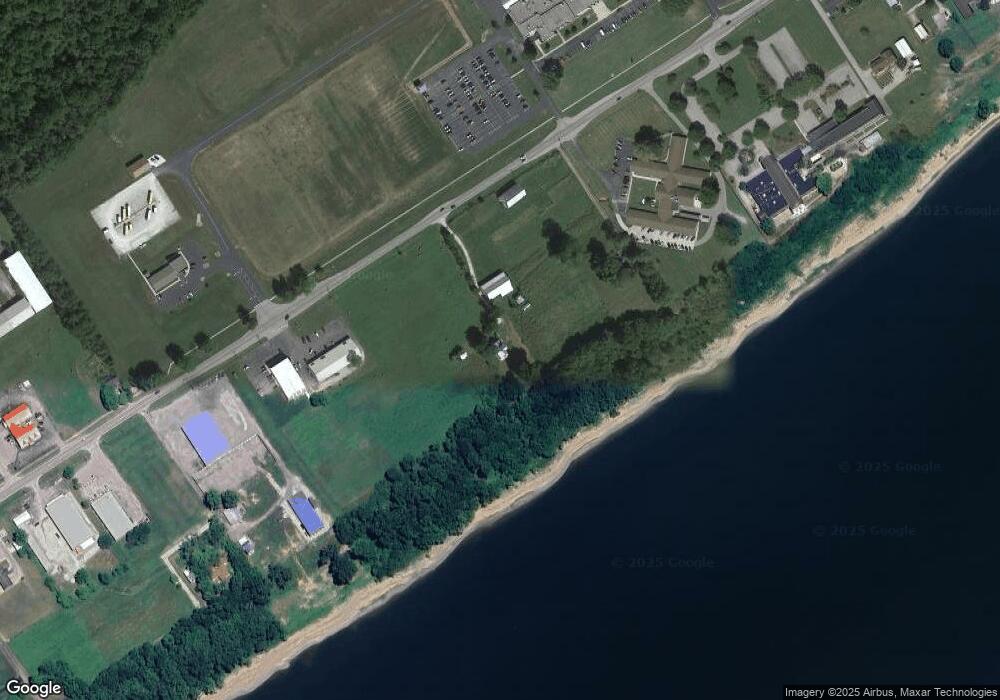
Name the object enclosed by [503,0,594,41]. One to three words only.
building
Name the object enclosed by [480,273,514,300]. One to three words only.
barn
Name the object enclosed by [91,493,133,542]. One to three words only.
building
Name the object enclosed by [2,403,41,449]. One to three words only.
house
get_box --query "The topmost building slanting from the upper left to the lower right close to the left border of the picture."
[3,251,52,312]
